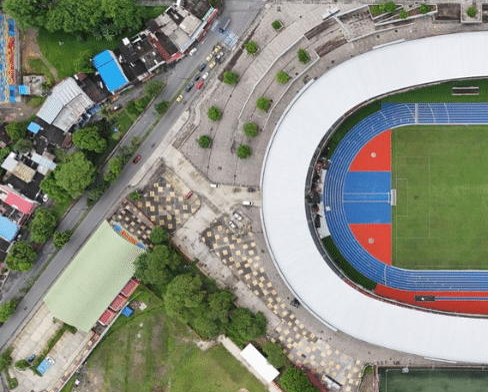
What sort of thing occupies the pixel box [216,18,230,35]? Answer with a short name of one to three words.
vehicle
